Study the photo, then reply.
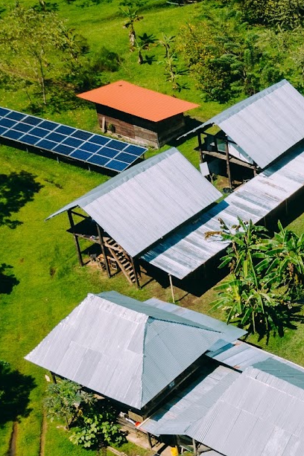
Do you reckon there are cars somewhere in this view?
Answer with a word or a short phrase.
No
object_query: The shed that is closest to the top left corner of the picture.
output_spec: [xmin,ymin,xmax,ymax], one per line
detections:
[77,79,197,149]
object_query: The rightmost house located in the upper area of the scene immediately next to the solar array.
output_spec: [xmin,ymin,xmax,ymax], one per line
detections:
[171,78,304,188]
